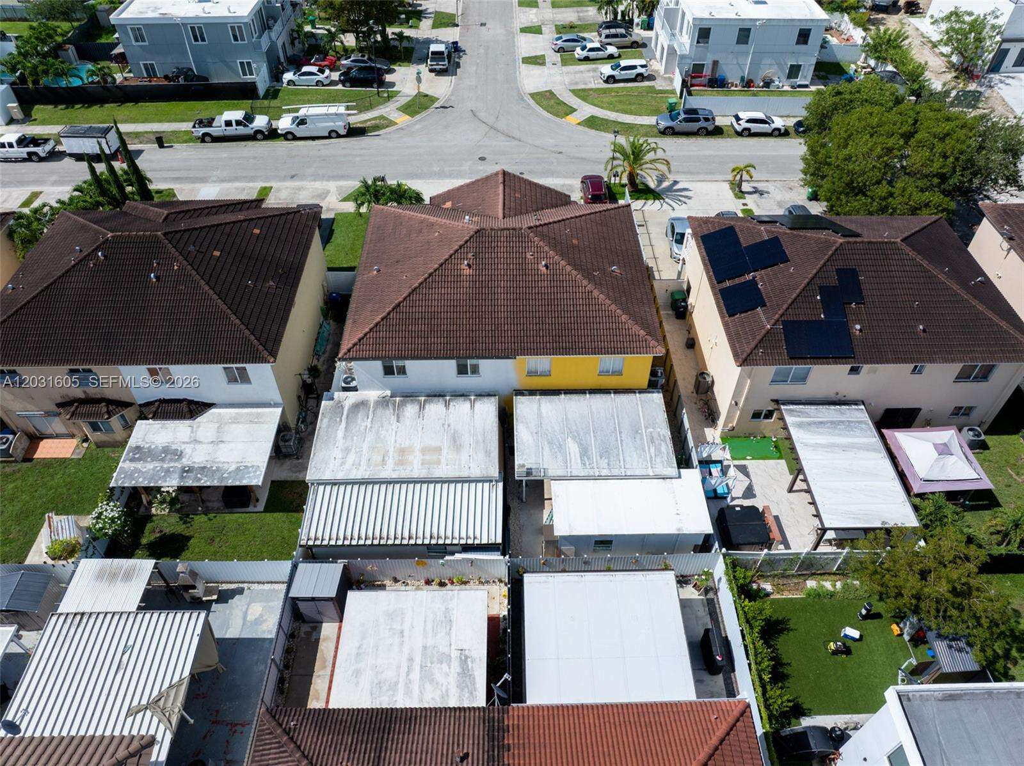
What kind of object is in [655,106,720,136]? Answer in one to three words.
car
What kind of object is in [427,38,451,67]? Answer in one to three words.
truck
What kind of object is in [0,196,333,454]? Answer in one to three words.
house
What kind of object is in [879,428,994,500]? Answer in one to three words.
gazebo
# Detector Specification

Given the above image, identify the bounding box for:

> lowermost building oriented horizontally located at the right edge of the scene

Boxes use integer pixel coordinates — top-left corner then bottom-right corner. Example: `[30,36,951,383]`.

[831,686,1024,766]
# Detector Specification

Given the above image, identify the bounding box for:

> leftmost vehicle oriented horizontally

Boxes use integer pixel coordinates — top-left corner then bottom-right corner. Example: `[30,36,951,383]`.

[0,129,62,160]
